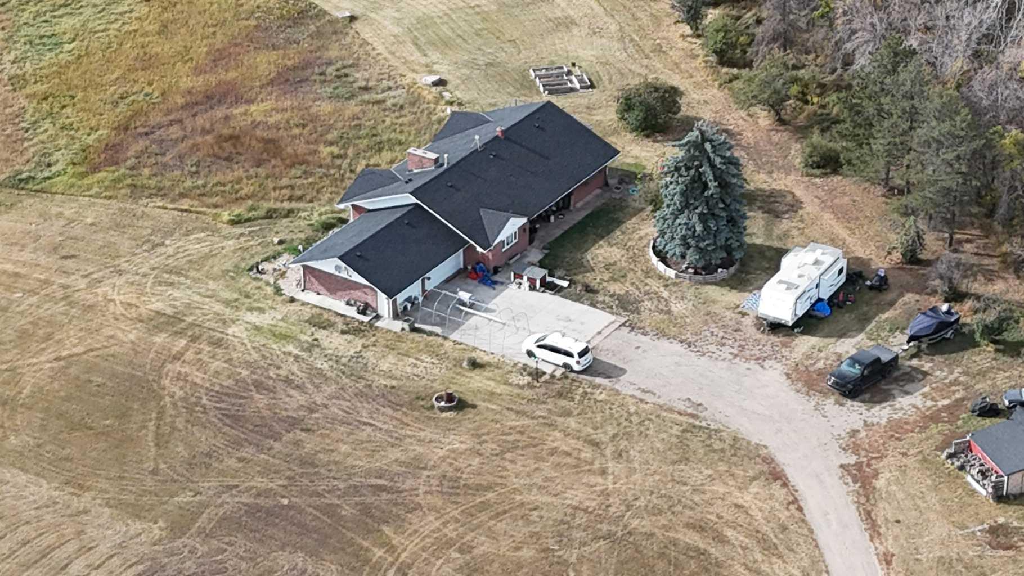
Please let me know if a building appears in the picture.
Yes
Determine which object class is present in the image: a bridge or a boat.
boat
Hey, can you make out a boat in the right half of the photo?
Yes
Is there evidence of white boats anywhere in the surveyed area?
No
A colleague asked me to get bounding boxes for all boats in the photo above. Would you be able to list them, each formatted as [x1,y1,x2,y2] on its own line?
[906,297,965,342]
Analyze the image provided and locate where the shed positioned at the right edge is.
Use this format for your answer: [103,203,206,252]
[966,412,1024,498]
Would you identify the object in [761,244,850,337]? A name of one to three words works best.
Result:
vehicle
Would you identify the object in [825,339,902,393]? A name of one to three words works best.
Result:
truck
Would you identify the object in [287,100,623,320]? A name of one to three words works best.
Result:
house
